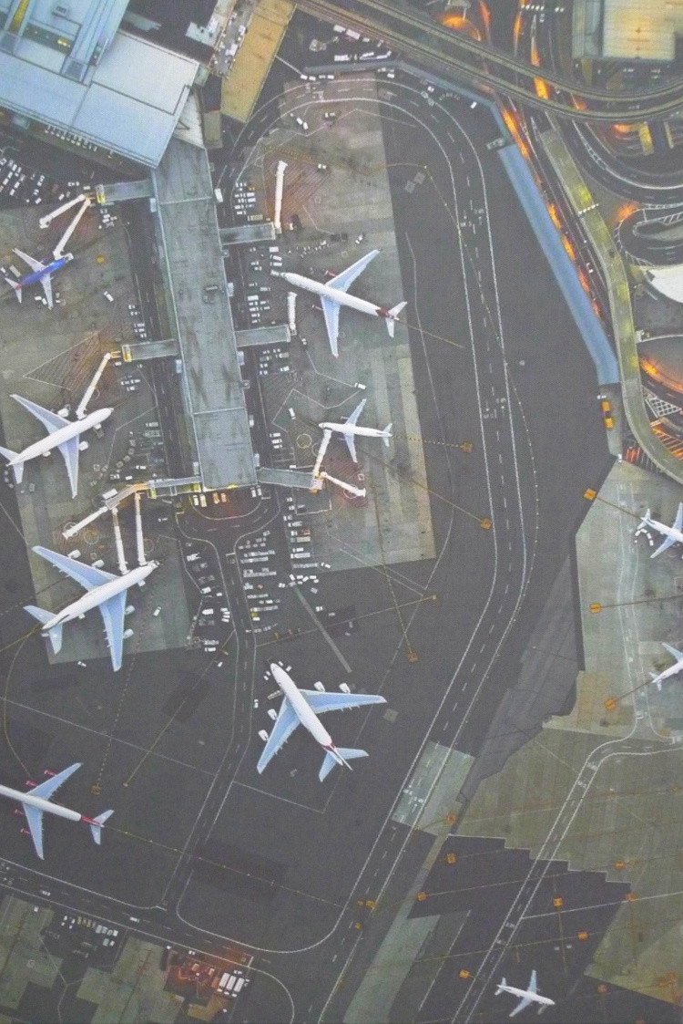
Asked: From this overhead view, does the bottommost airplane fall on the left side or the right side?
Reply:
right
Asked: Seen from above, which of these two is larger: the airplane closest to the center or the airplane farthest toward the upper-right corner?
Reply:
the airplane farthest toward the upper-right corner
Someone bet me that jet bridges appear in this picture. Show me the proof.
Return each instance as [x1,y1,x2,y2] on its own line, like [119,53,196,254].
[311,425,332,474]
[58,503,111,541]
[35,191,89,230]
[73,350,112,421]
[320,470,370,497]
[52,197,93,261]
[132,492,148,567]
[109,506,130,576]
[282,288,297,333]
[271,158,288,232]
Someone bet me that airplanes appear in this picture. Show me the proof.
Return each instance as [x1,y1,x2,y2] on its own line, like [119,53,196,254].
[319,399,397,462]
[635,502,683,559]
[7,249,68,312]
[280,248,409,360]
[0,394,113,500]
[491,969,555,1017]
[0,764,115,863]
[262,663,385,786]
[647,643,683,694]
[23,545,158,677]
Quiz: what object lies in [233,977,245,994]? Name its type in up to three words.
vehicle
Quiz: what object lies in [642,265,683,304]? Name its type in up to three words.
building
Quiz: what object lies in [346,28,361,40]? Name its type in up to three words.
vehicle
